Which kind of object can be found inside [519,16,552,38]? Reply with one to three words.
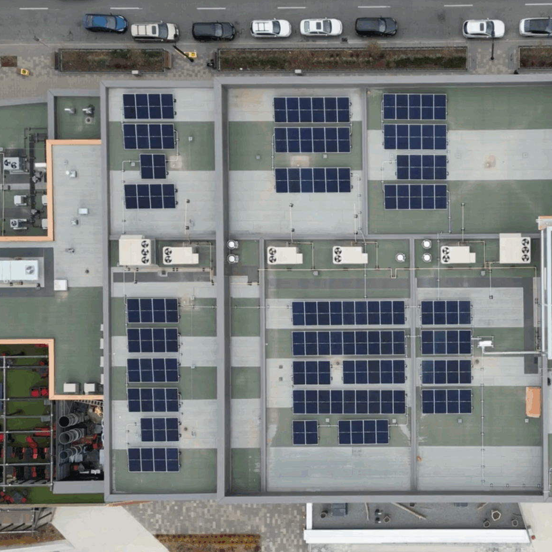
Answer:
car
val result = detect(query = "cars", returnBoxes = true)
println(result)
[130,20,180,43]
[519,16,552,38]
[462,18,505,40]
[191,20,236,42]
[354,16,398,38]
[82,12,129,34]
[249,18,293,40]
[299,17,344,39]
